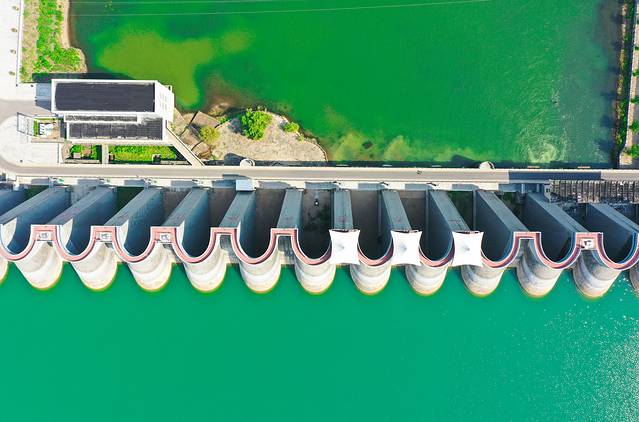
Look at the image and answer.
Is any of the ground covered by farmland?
No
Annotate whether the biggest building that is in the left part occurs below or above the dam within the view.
above it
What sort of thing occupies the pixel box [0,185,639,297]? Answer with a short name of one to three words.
dam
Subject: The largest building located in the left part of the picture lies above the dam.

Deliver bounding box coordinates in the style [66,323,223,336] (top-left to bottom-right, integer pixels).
[52,80,173,140]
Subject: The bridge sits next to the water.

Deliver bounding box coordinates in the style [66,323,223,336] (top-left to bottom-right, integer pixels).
[56,156,639,185]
